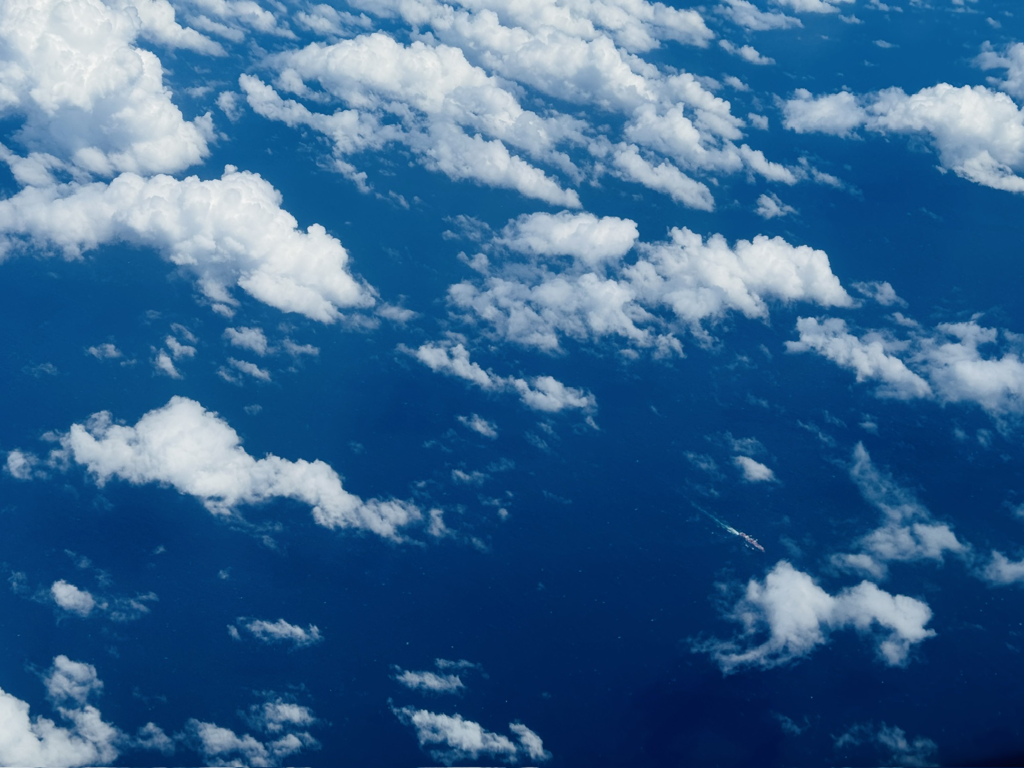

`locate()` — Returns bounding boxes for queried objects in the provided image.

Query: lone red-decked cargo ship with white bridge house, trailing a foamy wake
[739,532,764,551]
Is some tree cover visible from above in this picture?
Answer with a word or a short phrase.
No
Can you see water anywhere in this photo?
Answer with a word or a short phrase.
Yes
